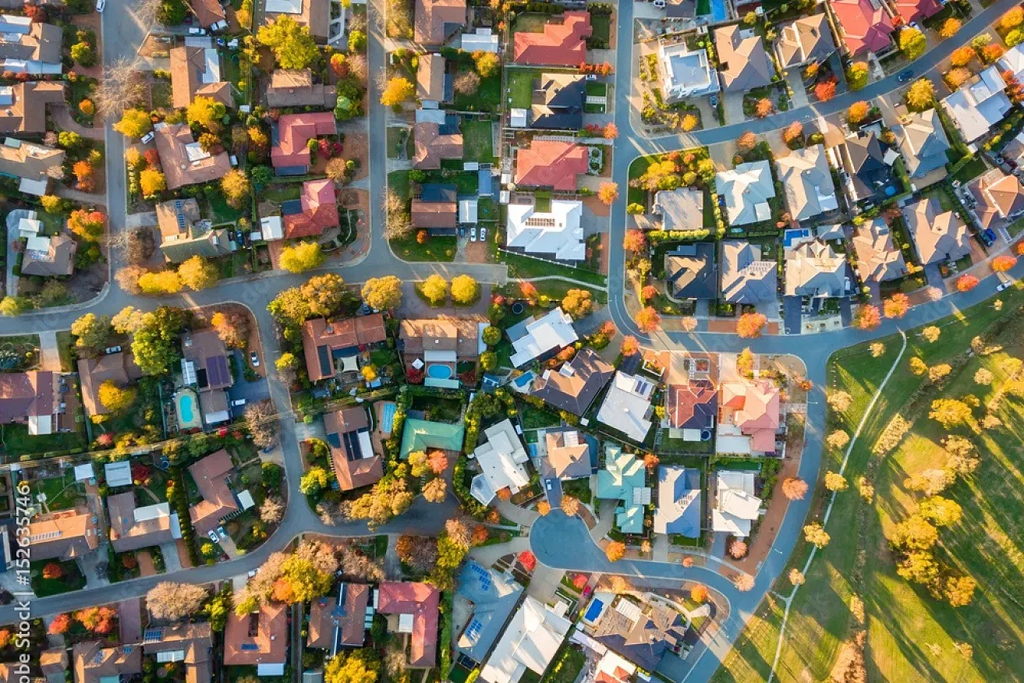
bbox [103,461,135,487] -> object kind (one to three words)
shed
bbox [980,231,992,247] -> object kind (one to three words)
vehicle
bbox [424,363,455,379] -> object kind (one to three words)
swimming pool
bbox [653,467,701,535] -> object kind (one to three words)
house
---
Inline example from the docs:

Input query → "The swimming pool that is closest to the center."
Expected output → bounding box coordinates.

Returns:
[511,370,536,395]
